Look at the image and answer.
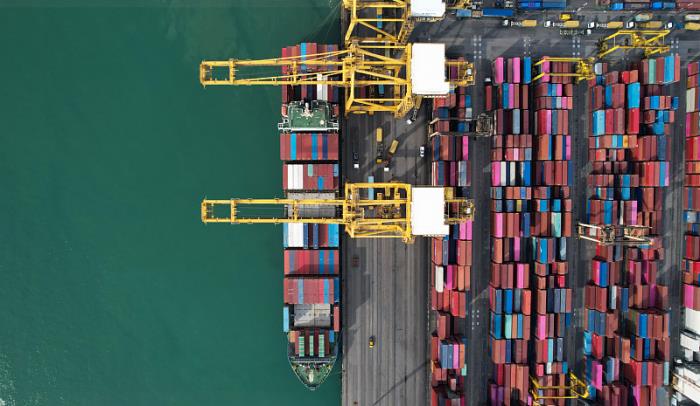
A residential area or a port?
port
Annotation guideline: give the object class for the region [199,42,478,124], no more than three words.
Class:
container crane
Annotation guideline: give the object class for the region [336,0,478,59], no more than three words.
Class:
container crane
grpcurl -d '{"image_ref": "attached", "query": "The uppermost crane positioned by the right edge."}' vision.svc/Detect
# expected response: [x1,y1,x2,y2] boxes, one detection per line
[594,27,669,59]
